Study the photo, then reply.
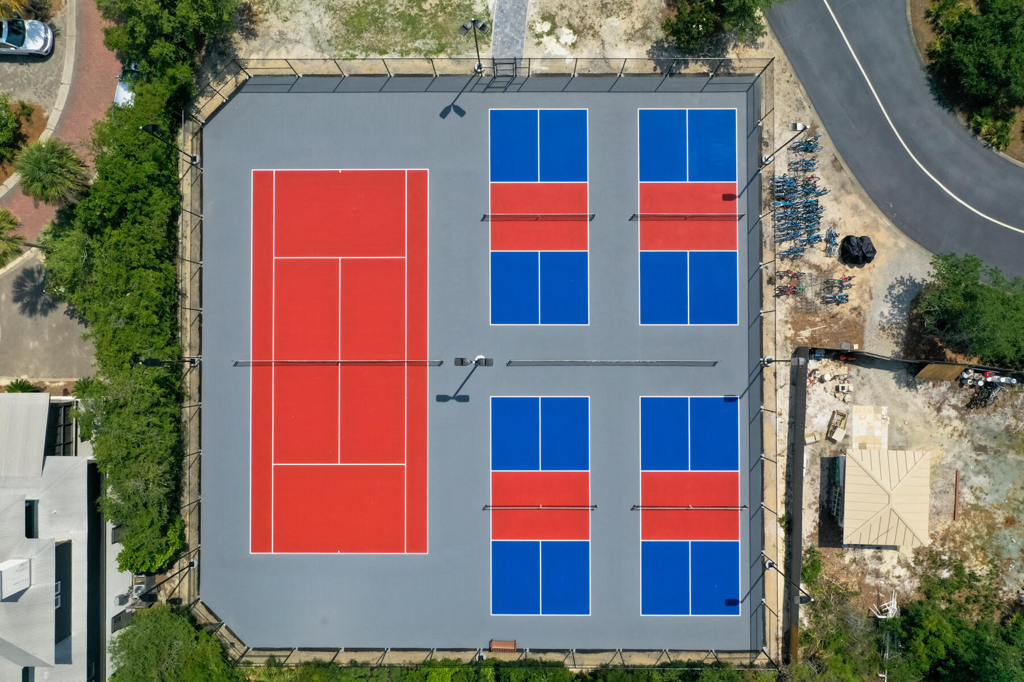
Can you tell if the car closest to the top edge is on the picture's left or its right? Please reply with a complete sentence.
The car closest to the top edge appears in the left half of the scene.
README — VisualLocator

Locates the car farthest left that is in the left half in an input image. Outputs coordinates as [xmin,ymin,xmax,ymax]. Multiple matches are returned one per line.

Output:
[0,18,56,56]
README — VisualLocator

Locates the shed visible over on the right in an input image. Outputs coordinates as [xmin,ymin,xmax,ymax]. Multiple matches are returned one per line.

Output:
[831,449,931,548]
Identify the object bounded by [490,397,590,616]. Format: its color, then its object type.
blue sports court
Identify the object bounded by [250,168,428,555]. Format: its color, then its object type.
red tennis court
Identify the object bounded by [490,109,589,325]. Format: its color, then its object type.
blue sports court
